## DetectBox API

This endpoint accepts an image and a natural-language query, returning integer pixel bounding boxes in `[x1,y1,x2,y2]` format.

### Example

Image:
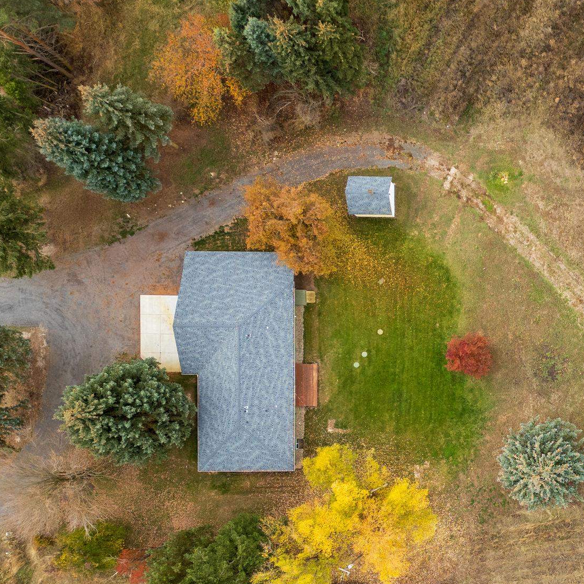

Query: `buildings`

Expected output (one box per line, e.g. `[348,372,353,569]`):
[346,177,396,217]
[173,251,296,473]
